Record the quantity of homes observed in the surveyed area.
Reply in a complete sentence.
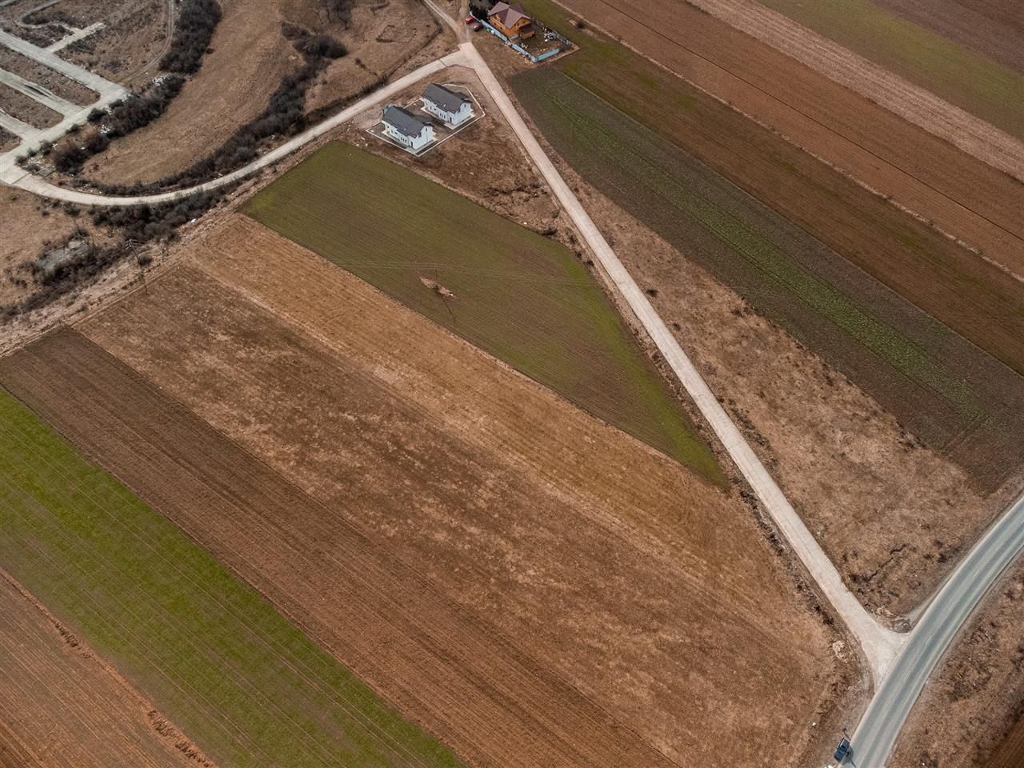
The count of homes comes to 3.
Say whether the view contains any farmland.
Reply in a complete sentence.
Yes, there is farmland in the image.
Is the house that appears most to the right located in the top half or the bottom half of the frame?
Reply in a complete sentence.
You can find the house that appears most to the right in the top half.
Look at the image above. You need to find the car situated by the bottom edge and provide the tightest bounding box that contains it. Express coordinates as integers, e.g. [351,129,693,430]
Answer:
[835,737,853,761]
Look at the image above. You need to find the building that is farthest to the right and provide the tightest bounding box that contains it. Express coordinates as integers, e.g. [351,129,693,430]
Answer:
[490,4,534,41]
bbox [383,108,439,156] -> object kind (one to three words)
house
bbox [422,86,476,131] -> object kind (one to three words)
house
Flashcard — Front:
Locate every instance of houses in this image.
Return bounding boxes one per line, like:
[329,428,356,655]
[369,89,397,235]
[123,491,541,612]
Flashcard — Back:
[383,108,439,156]
[422,86,476,131]
[490,4,534,41]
